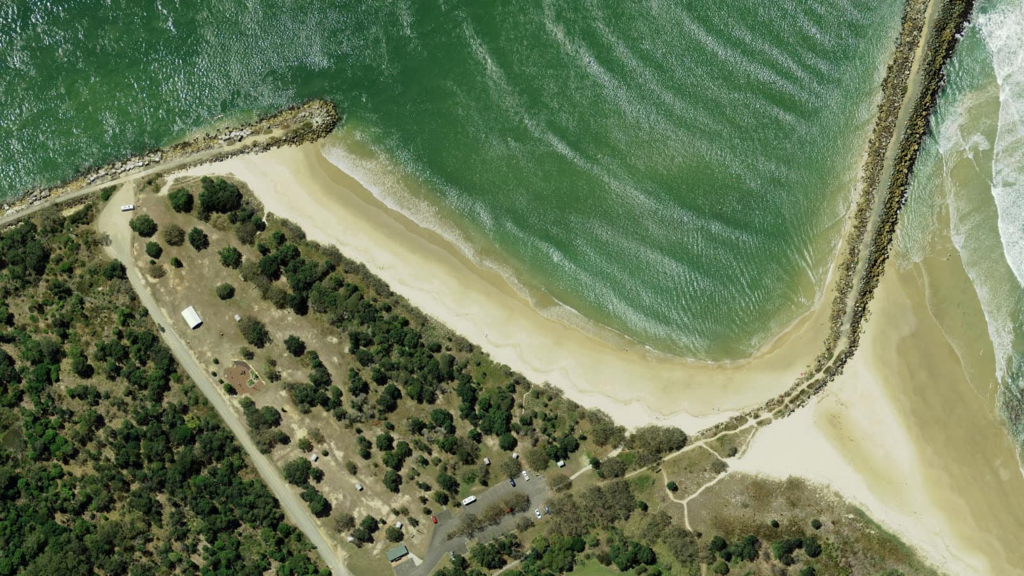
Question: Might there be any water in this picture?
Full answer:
Yes, there is water in the image.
